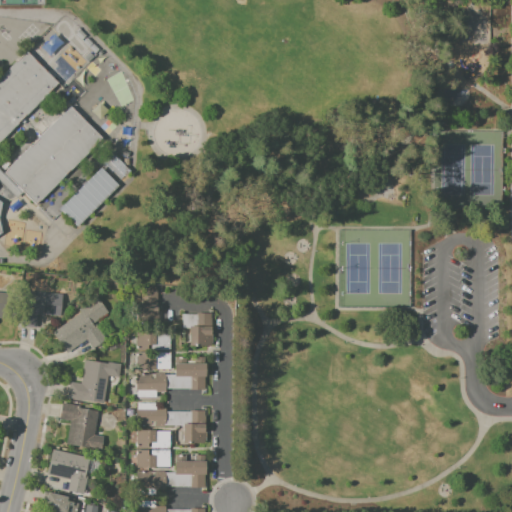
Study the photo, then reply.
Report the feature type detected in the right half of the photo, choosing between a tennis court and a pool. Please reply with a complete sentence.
Visible in the right half of the photo is a tennis court.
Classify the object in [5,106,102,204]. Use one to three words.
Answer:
building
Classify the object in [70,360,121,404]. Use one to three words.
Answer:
house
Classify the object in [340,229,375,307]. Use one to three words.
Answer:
tennis court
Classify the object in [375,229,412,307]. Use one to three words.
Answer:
tennis court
